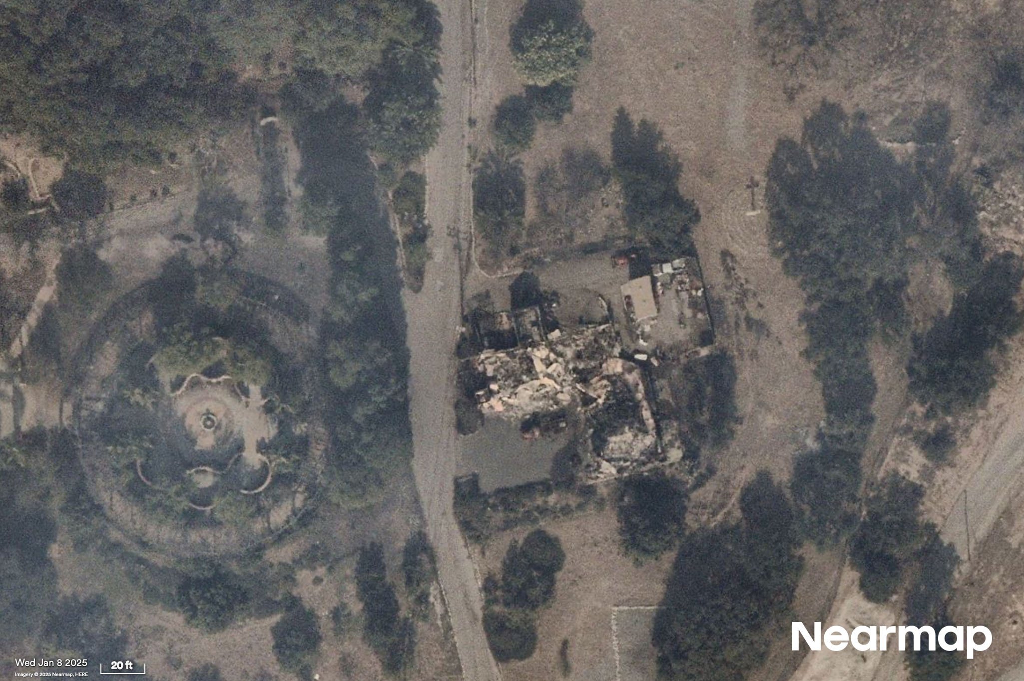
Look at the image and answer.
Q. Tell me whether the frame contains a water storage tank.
No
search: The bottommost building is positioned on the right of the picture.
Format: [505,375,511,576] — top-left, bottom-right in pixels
[621,275,658,321]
